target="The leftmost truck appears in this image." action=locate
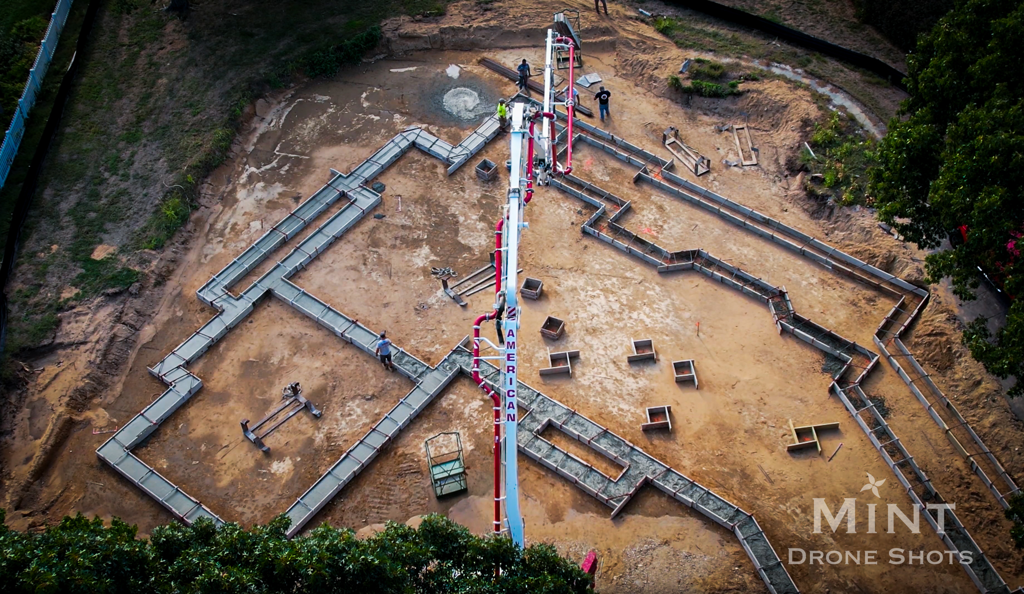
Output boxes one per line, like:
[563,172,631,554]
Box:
[472,30,600,591]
